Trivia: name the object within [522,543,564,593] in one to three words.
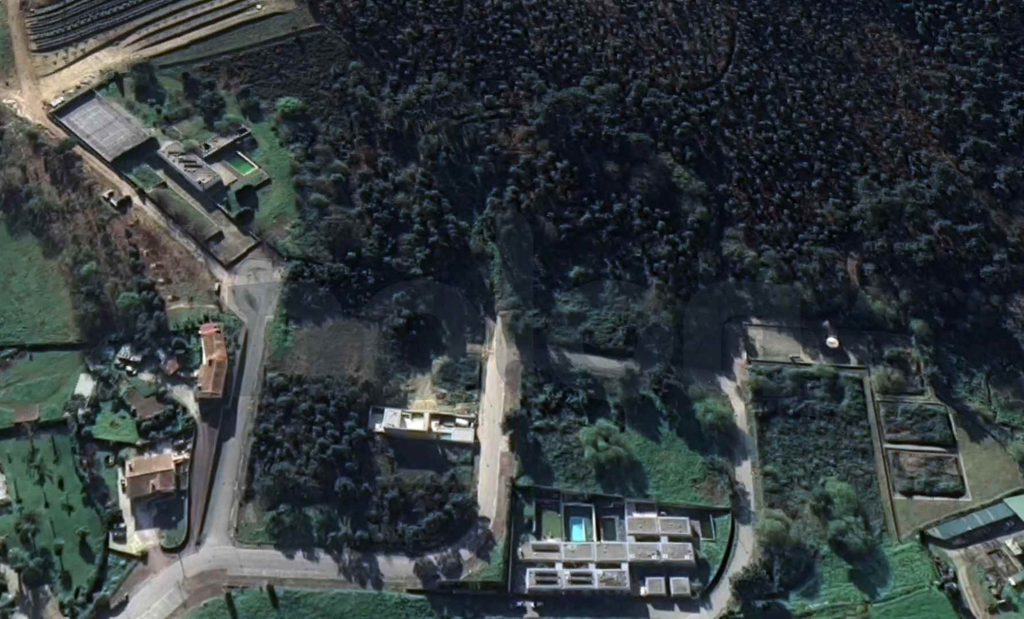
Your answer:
house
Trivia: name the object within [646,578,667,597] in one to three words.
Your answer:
building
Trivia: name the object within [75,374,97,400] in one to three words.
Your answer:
shed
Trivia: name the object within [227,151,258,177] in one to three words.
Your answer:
swimming pool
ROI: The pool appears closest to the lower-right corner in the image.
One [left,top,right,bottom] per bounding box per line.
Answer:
[569,516,587,543]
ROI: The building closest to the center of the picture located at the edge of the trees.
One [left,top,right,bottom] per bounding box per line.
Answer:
[368,407,477,447]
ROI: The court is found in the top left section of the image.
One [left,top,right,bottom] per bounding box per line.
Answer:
[57,92,151,164]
